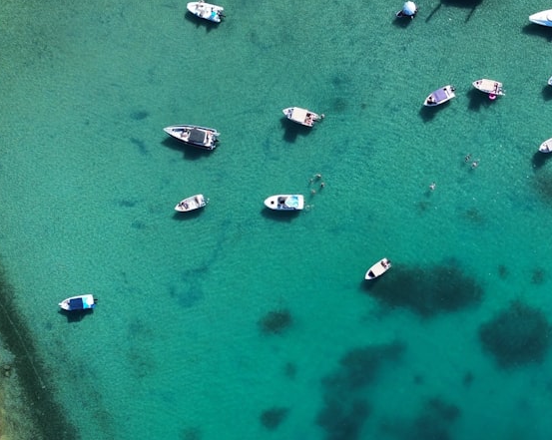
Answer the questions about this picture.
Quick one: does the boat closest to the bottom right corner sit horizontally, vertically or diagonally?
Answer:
diagonally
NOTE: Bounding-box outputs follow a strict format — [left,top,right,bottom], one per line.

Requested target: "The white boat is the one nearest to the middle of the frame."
[264,194,305,209]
